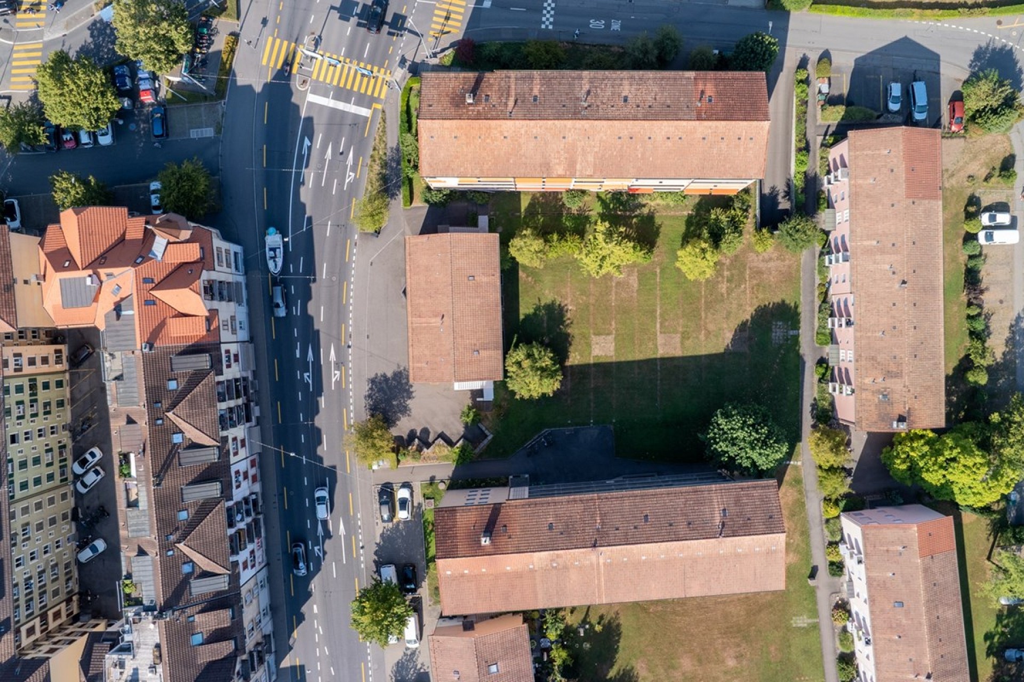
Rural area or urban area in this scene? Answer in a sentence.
From above, the setting appears urban.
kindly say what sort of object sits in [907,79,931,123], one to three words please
vehicle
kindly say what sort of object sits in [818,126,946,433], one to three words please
building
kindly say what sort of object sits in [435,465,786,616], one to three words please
building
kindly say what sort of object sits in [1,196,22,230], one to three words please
car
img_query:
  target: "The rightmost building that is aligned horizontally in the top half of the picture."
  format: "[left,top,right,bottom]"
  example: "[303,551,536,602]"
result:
[418,71,770,197]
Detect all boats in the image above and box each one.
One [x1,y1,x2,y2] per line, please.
[264,230,282,277]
